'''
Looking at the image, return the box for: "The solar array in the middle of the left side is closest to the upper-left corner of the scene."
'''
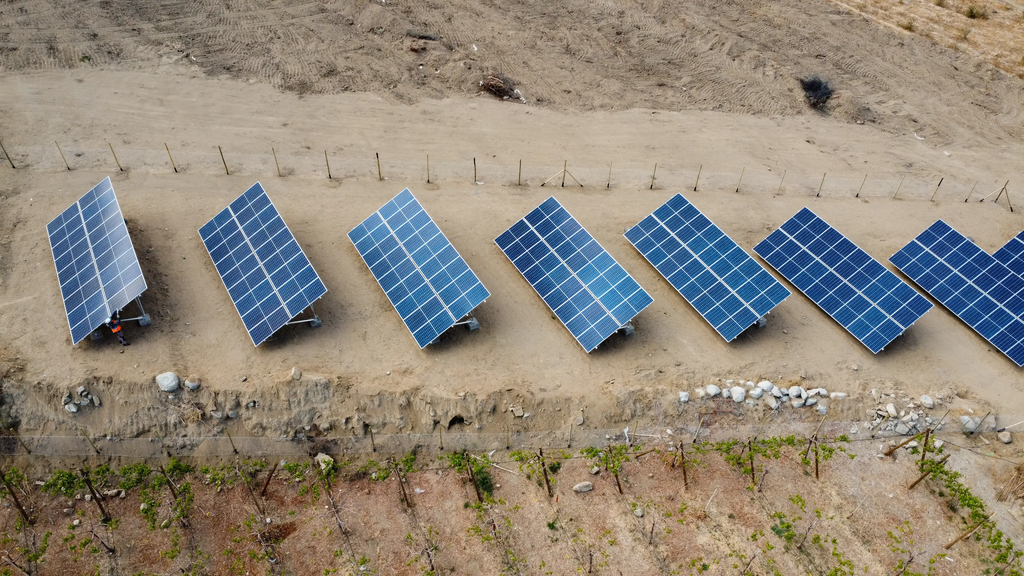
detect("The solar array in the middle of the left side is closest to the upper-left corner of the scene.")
[45,175,157,346]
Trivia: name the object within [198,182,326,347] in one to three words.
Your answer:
solar array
